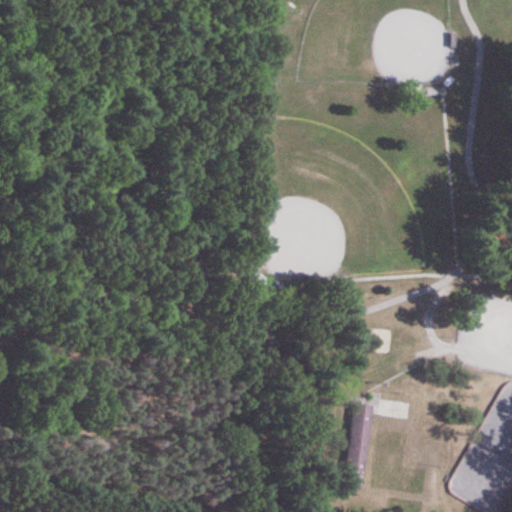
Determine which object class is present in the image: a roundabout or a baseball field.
baseball field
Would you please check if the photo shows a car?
No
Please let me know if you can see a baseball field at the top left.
No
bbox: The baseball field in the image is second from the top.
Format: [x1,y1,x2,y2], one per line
[262,117,424,280]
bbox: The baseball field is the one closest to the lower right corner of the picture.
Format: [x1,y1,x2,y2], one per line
[456,288,512,372]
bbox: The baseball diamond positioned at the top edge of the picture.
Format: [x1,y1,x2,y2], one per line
[297,0,452,86]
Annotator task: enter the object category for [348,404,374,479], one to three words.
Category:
shed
